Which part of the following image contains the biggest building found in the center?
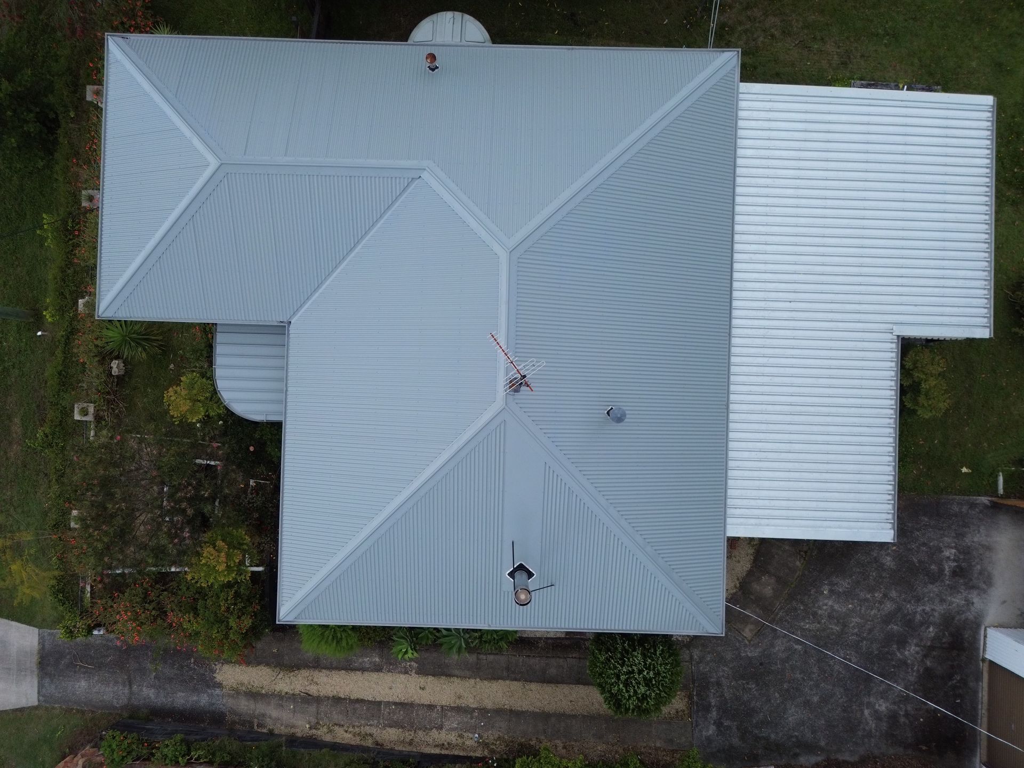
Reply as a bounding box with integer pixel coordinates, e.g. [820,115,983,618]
[96,35,740,635]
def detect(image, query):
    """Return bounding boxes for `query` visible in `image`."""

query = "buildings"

[96,35,740,635]
[985,628,1024,768]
